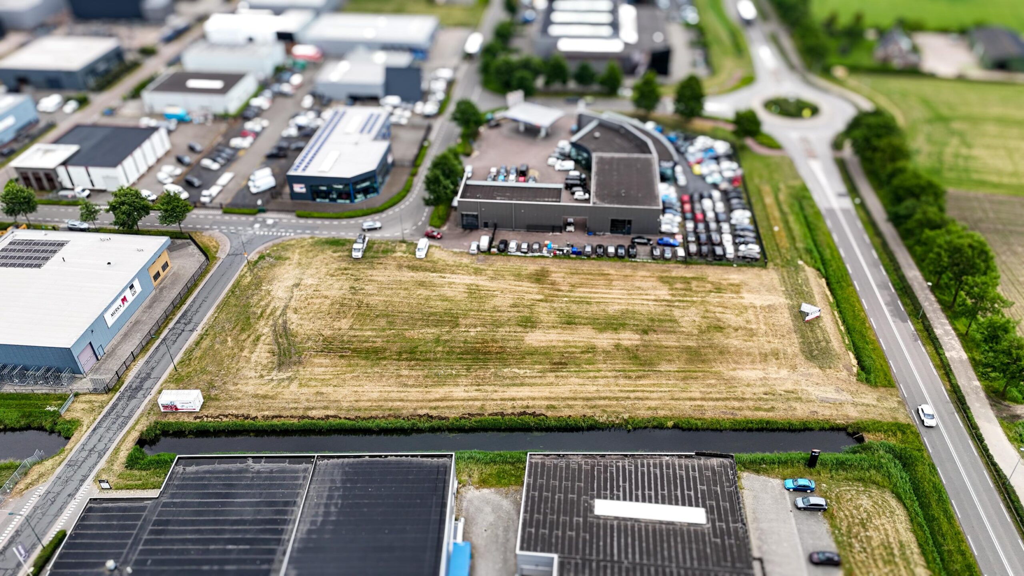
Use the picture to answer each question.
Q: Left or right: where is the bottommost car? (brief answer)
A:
right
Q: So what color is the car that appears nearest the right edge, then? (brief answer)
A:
white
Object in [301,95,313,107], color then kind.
white vehicle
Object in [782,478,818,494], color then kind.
blue car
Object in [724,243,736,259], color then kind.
white vehicle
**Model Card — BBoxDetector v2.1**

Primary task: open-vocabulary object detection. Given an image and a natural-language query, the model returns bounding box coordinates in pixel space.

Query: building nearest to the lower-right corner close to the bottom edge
[515,453,758,576]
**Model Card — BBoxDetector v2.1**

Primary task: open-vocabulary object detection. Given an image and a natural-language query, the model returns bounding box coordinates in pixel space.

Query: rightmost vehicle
[916,403,937,429]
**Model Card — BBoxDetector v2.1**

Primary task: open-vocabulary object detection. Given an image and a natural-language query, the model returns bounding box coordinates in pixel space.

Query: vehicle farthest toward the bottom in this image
[807,549,843,569]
